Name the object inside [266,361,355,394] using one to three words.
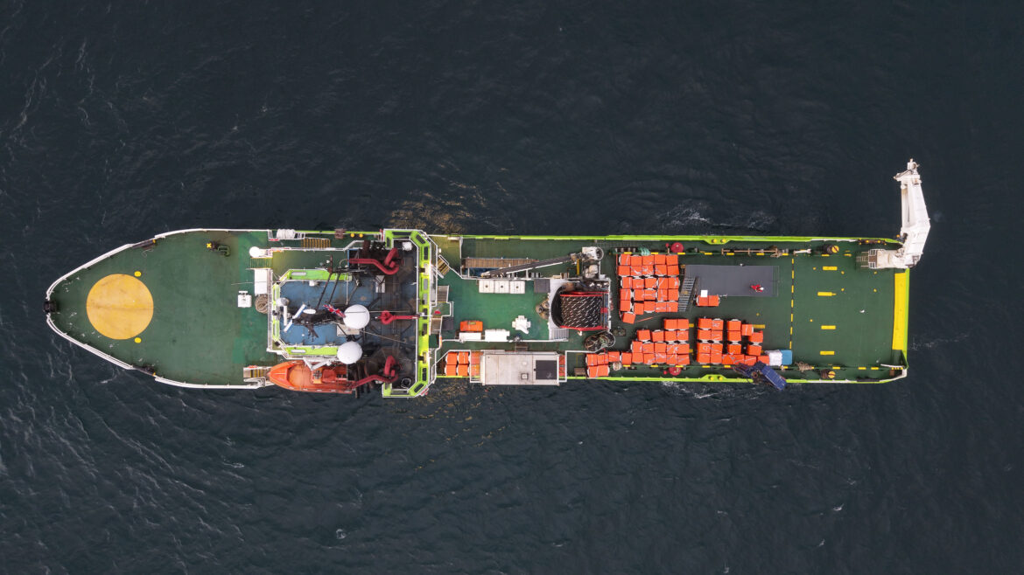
boat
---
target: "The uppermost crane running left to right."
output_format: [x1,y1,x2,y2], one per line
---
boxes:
[481,247,605,277]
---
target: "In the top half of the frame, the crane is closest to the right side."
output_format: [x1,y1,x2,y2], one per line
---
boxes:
[856,158,930,269]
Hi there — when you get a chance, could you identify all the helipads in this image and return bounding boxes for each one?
[87,273,153,339]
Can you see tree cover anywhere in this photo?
No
